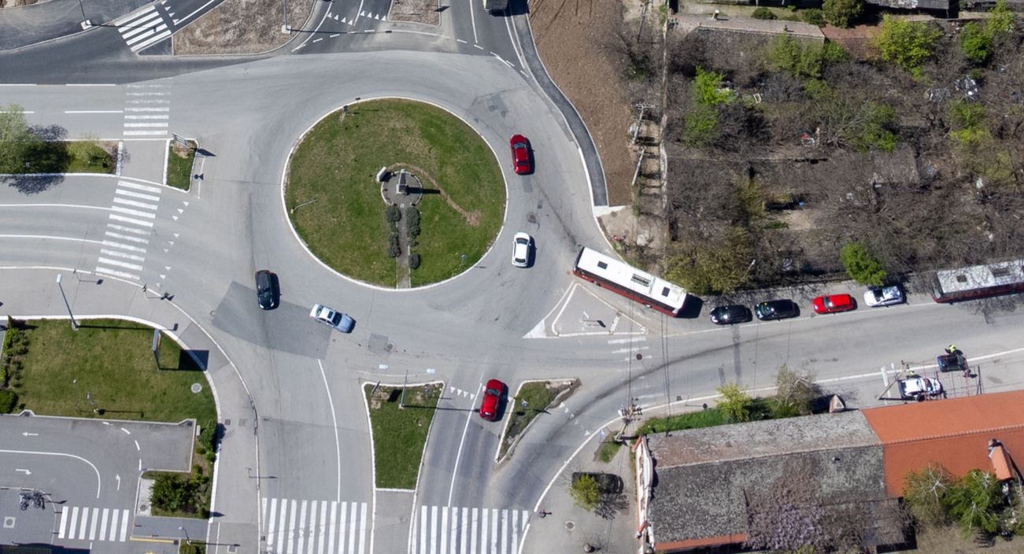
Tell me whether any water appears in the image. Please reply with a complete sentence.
No, the scene doesn't show any water.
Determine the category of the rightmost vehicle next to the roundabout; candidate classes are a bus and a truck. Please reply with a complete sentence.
It turns out the rightmost vehicle next to the roundabout is a bus.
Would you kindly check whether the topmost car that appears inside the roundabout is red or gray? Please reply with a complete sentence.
From above, the topmost car that appears inside the roundabout appears red.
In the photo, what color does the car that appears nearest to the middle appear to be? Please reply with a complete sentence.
In this view, the car that appears nearest to the middle is white.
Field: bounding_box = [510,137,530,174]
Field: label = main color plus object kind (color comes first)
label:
red car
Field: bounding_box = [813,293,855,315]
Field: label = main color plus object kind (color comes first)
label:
red car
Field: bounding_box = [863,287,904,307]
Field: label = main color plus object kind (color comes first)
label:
white car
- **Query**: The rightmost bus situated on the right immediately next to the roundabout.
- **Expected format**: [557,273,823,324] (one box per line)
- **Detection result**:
[572,248,688,325]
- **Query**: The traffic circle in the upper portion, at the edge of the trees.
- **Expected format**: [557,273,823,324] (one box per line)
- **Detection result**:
[246,52,586,347]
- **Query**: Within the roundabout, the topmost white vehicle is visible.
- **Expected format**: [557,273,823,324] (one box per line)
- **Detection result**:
[512,233,532,268]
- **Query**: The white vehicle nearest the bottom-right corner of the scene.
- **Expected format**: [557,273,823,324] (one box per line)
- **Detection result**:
[898,375,942,397]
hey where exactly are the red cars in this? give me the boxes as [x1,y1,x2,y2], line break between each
[813,293,855,315]
[510,137,530,174]
[480,380,505,422]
